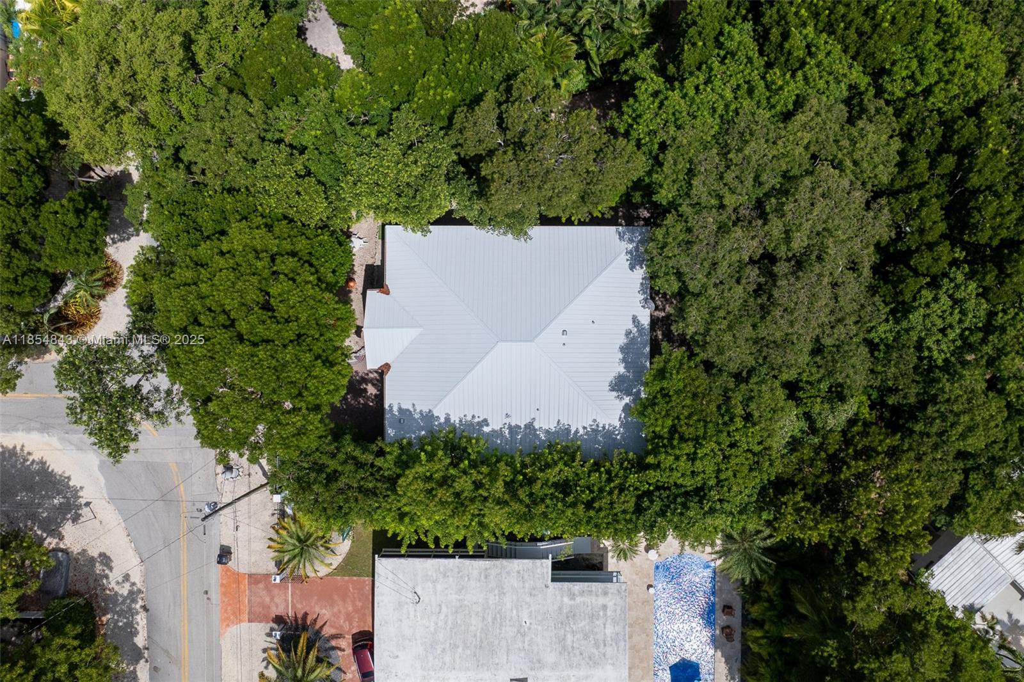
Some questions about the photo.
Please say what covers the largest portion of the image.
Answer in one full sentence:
For the most part, this view shows trees.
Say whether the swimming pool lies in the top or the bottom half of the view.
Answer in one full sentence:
Seen from above, the swimming pool lies in the bottom half of the view.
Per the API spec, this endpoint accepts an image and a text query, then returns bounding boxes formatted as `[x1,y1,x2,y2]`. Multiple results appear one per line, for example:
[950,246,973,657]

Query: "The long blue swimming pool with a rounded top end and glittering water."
[651,550,718,682]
